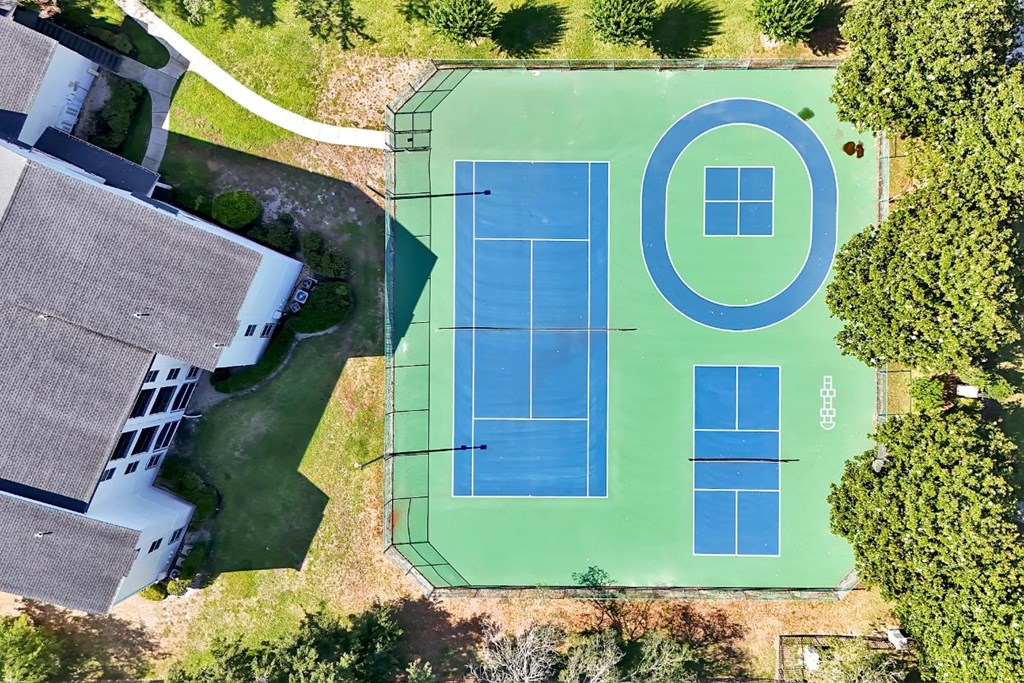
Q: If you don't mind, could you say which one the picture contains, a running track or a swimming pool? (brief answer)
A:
running track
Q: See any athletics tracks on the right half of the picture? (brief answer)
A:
Yes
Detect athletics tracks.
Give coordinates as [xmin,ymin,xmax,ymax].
[641,98,838,331]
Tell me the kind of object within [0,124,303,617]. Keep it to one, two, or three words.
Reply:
building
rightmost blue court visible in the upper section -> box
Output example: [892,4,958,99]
[704,167,775,236]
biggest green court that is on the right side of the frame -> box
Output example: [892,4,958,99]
[392,68,879,588]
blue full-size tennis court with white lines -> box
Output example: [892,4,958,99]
[452,160,609,497]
